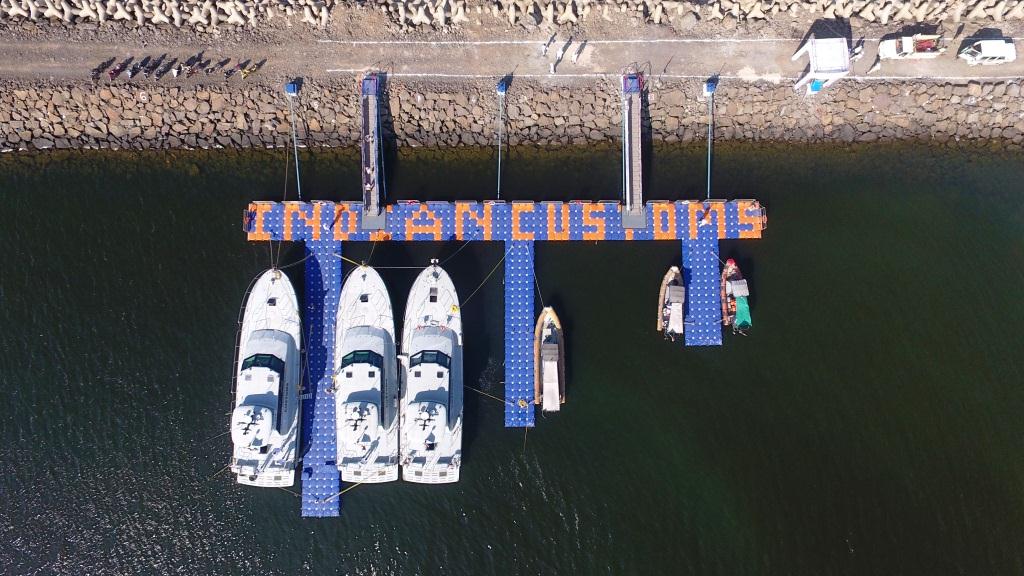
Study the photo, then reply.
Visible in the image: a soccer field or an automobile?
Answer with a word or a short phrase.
automobile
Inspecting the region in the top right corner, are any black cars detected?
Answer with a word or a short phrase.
No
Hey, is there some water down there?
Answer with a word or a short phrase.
Yes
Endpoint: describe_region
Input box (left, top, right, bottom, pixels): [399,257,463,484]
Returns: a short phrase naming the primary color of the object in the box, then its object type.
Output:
white boat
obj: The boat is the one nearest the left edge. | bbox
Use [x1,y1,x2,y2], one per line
[229,261,304,487]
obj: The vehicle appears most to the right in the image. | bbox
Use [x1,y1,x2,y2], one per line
[954,38,1016,68]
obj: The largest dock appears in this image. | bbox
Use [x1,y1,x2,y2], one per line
[244,198,767,518]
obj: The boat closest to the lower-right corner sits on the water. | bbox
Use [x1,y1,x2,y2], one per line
[719,259,751,333]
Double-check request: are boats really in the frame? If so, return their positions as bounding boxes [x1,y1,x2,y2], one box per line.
[533,308,565,412]
[399,257,463,484]
[719,259,751,333]
[229,261,304,487]
[655,266,688,337]
[333,258,399,483]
